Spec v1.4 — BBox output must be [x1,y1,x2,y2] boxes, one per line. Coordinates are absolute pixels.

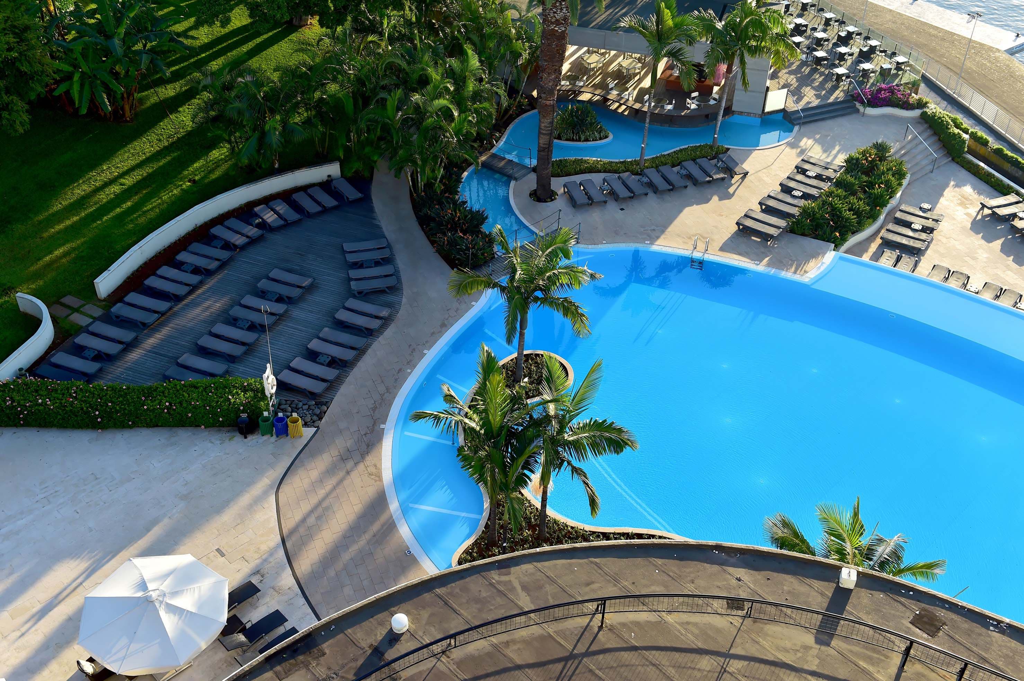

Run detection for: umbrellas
[76,552,230,678]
